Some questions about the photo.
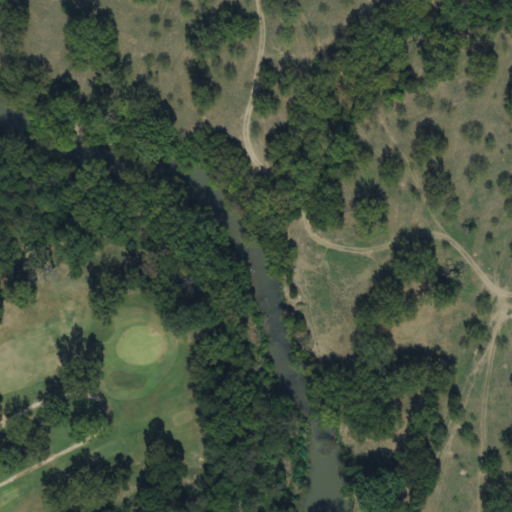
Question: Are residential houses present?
No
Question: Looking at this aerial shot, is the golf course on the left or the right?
left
